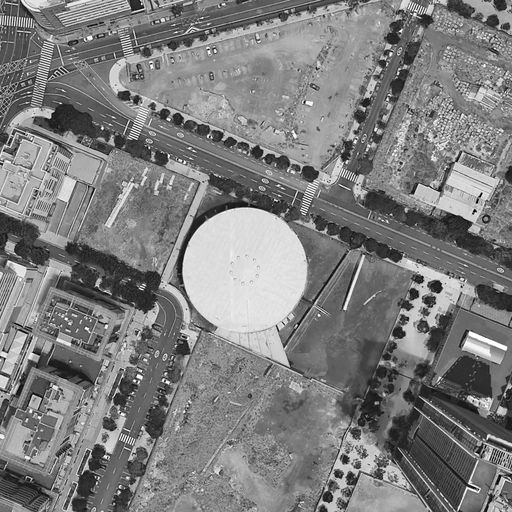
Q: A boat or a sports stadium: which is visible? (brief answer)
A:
sports stadium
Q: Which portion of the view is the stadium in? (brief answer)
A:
center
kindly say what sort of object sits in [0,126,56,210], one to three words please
building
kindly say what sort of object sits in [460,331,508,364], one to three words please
building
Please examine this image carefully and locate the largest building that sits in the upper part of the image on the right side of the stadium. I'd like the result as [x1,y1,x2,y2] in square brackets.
[434,152,500,226]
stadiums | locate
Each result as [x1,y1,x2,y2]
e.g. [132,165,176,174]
[179,203,312,366]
